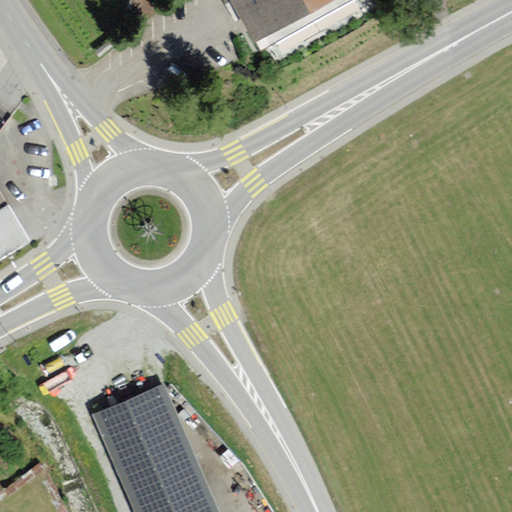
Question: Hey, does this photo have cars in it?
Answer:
Yes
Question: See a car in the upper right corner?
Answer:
No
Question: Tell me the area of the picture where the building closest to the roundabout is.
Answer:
left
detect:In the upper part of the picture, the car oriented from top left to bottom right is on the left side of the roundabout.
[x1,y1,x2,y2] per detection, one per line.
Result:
[5,181,25,200]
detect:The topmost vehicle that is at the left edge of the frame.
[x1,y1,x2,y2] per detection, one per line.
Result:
[20,120,42,134]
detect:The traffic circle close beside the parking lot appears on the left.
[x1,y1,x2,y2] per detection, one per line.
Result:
[70,147,230,308]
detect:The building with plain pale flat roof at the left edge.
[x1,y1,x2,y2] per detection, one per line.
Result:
[0,204,30,260]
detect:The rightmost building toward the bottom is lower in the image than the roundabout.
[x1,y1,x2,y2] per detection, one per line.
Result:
[92,384,220,512]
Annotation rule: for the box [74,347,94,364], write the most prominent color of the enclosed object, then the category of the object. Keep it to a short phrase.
white work vehicle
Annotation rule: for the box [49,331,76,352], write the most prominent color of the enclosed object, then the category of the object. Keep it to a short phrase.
white vehicle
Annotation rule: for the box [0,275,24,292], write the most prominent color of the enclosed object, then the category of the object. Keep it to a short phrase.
white vehicle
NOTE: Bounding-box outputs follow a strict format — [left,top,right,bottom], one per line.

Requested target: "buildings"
[0,464,64,512]
[0,204,30,260]
[92,384,220,512]
[226,0,370,61]
[92,40,115,60]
